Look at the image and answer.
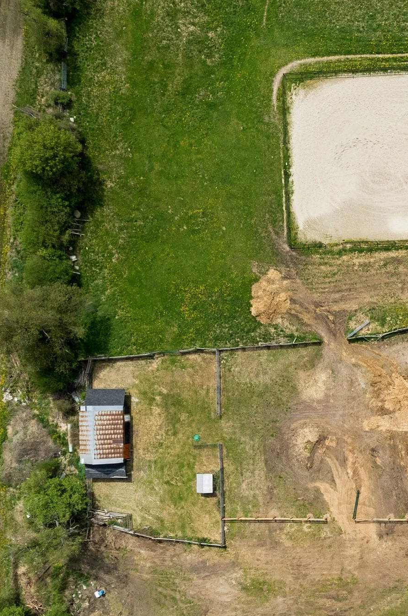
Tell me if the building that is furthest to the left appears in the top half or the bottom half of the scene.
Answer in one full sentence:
The bottom half of the photo is where the building that is furthest to the left is.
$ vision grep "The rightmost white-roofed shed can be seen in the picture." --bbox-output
[197,473,216,493]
